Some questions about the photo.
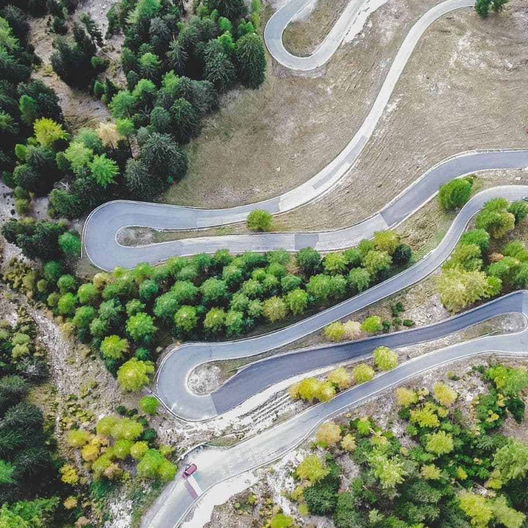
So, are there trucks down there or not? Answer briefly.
No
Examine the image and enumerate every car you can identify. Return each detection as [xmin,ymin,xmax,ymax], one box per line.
[181,464,198,481]
[523,194,528,202]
